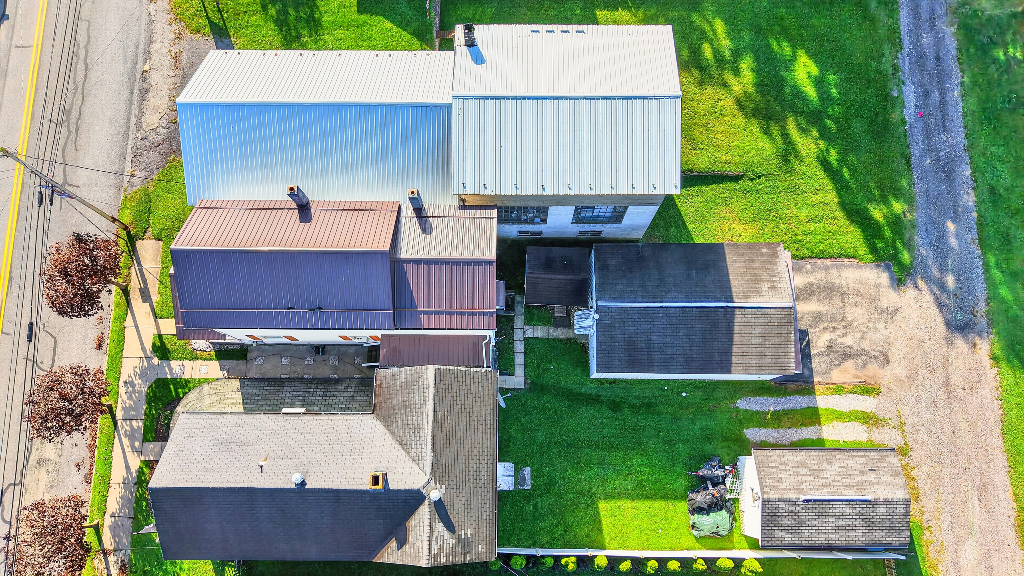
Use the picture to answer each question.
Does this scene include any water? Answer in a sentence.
No, the scene doesn't show any water.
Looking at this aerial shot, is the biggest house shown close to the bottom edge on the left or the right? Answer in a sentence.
You can find the biggest house shown close to the bottom edge on the left side of the picture.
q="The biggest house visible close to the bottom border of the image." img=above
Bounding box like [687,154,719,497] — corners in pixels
[148,363,500,568]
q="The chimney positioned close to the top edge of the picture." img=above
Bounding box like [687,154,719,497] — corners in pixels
[465,24,477,45]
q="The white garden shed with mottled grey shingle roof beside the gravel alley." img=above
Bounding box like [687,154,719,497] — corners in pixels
[739,446,912,549]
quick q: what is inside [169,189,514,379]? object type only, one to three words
house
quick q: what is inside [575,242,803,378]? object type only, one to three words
building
